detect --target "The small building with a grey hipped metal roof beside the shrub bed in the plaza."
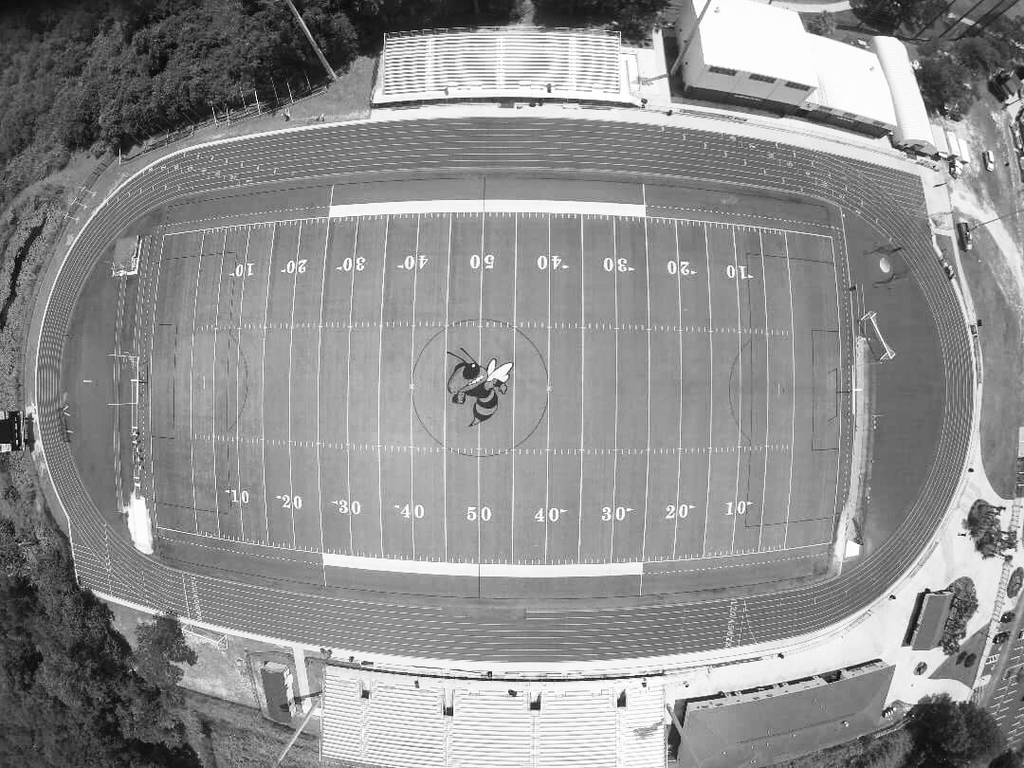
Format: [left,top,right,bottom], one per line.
[895,589,954,652]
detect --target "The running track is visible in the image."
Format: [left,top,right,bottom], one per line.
[35,114,977,669]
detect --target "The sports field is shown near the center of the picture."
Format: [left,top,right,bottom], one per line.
[139,174,853,604]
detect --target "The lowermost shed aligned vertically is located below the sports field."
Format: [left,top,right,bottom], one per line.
[262,653,298,722]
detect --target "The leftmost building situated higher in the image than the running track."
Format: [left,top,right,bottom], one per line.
[673,0,821,112]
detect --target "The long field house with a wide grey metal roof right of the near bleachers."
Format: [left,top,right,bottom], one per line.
[673,658,896,768]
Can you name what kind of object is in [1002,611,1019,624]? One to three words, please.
vehicle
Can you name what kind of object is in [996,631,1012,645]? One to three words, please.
car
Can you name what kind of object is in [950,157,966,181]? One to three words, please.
vehicle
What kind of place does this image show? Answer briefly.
sports ground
